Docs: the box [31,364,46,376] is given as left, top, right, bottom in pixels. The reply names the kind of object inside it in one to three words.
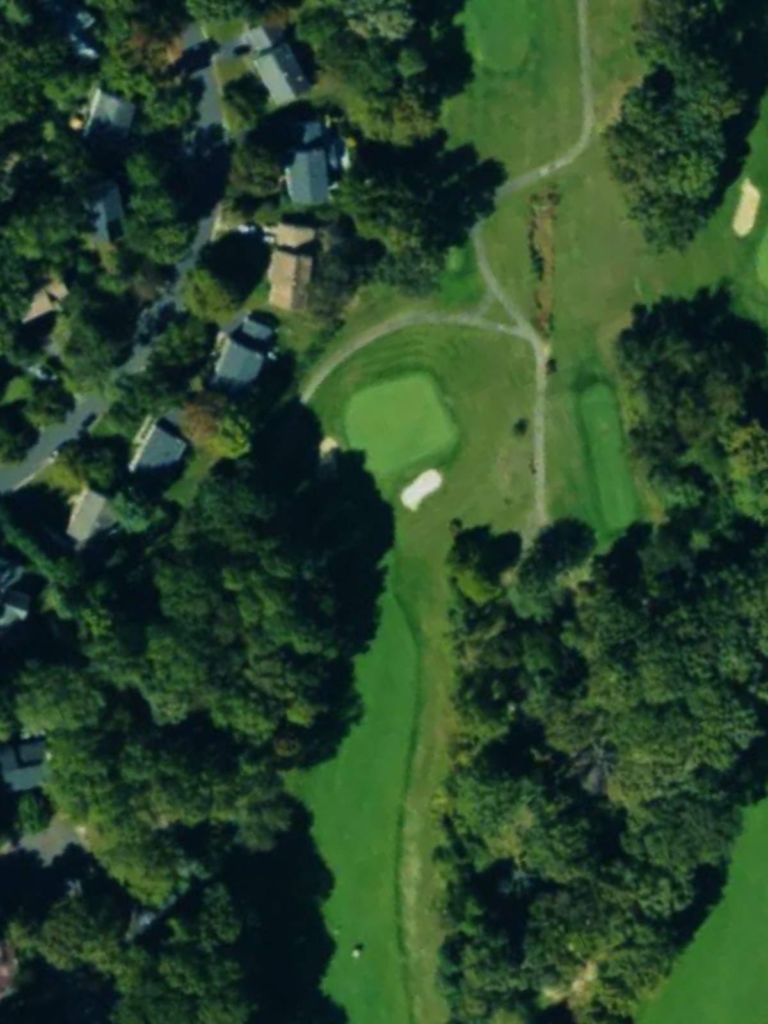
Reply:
vehicle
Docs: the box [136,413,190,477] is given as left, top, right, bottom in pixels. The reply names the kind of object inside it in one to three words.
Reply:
house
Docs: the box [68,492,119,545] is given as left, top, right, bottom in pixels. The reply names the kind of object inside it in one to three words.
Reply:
house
